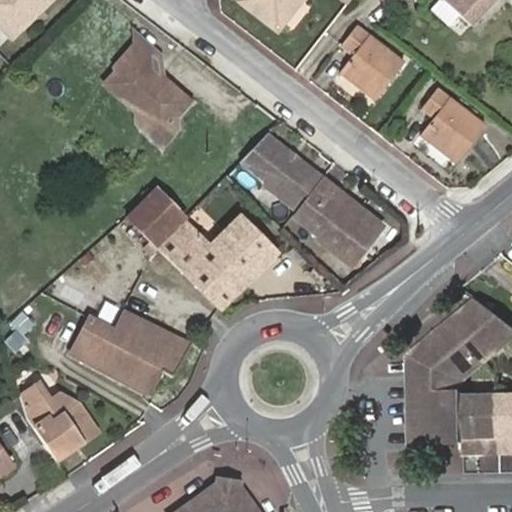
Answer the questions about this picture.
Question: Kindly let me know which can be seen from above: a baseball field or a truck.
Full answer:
Looking from above, you can make out a truck.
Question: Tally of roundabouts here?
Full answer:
I count just 1 roundabout.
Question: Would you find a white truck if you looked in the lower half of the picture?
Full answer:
Yes, you'll find a white truck in the lower half of the picture.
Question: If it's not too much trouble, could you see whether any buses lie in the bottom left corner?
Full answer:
Yes, in the bottom left corner there is a bus.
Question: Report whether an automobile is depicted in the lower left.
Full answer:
Yes, an automobile is visible in the lower left.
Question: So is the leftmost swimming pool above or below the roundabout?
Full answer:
The position of the leftmost swimming pool is above the roundabout.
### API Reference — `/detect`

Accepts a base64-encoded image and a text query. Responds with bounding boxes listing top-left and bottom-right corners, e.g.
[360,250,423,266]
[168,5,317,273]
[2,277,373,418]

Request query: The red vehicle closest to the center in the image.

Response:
[260,326,282,338]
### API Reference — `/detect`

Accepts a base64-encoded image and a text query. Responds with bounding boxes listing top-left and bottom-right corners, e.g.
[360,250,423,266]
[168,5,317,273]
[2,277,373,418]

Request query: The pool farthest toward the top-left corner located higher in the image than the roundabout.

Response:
[236,170,258,190]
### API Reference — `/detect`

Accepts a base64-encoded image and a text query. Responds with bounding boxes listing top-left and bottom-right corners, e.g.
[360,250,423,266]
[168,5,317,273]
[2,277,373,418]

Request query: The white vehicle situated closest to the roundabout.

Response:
[178,392,214,428]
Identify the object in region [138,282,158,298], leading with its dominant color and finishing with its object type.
white car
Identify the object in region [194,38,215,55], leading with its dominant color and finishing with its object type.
gray car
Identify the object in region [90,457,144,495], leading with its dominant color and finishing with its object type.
white bus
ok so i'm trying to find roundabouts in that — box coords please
[216,316,342,442]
